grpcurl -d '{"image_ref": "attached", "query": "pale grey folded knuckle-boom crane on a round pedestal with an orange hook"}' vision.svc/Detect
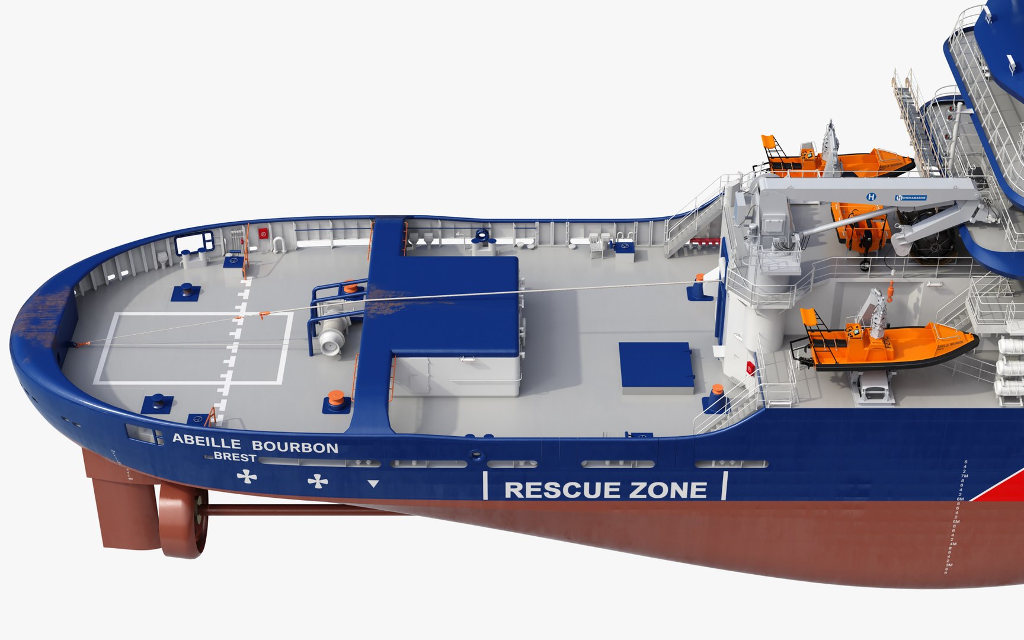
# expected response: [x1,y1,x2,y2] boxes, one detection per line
[732,169,1003,355]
